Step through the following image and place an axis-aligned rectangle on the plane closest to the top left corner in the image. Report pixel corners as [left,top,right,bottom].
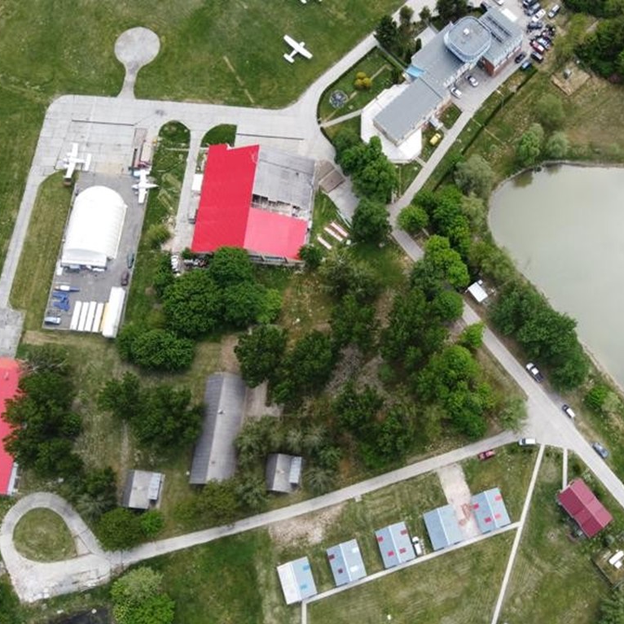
[64,144,91,180]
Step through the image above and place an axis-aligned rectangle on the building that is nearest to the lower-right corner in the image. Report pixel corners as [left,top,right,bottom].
[557,479,613,537]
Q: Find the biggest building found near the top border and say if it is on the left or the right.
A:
right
